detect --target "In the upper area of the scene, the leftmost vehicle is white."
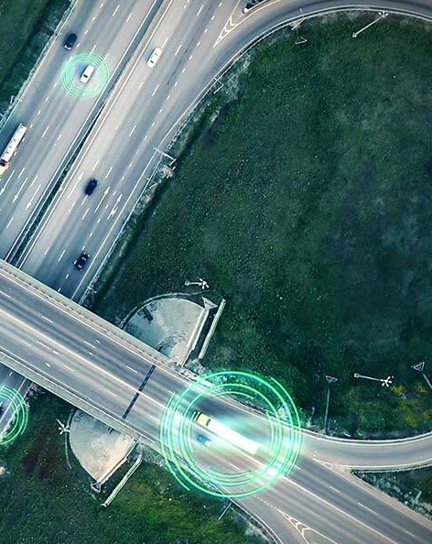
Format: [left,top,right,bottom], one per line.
[0,123,27,176]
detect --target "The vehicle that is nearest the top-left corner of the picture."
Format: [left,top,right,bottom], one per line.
[63,30,78,50]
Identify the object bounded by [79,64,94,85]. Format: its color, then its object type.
white car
